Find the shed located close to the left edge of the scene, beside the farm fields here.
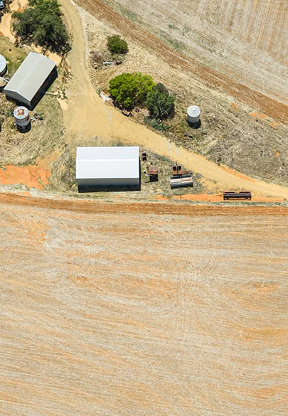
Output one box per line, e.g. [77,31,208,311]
[2,51,57,106]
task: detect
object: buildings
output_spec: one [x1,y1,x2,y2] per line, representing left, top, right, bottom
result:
[2,51,57,106]
[76,146,139,187]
